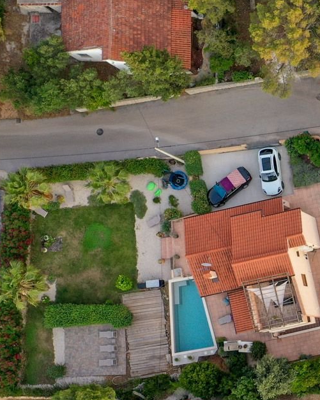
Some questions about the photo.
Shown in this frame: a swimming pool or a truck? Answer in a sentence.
The one in the frame is a swimming pool.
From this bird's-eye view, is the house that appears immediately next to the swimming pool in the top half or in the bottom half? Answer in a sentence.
Seen from above, the house that appears immediately next to the swimming pool lies in the bottom half of the view.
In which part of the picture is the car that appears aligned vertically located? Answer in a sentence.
You can find the car that appears aligned vertically in the right area of the picture.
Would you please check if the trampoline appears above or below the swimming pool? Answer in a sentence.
You can see the trampoline above the swimming pool in the frame.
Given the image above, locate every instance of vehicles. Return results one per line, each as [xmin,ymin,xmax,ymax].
[258,149,284,197]
[208,165,254,205]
